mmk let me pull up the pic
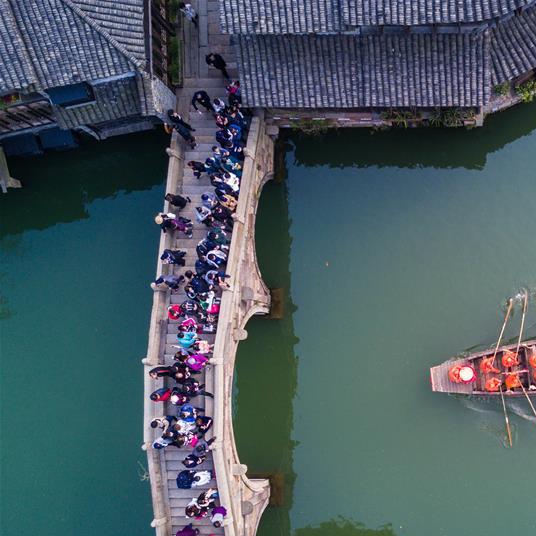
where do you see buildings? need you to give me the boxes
[0,0,175,164]
[210,0,536,124]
